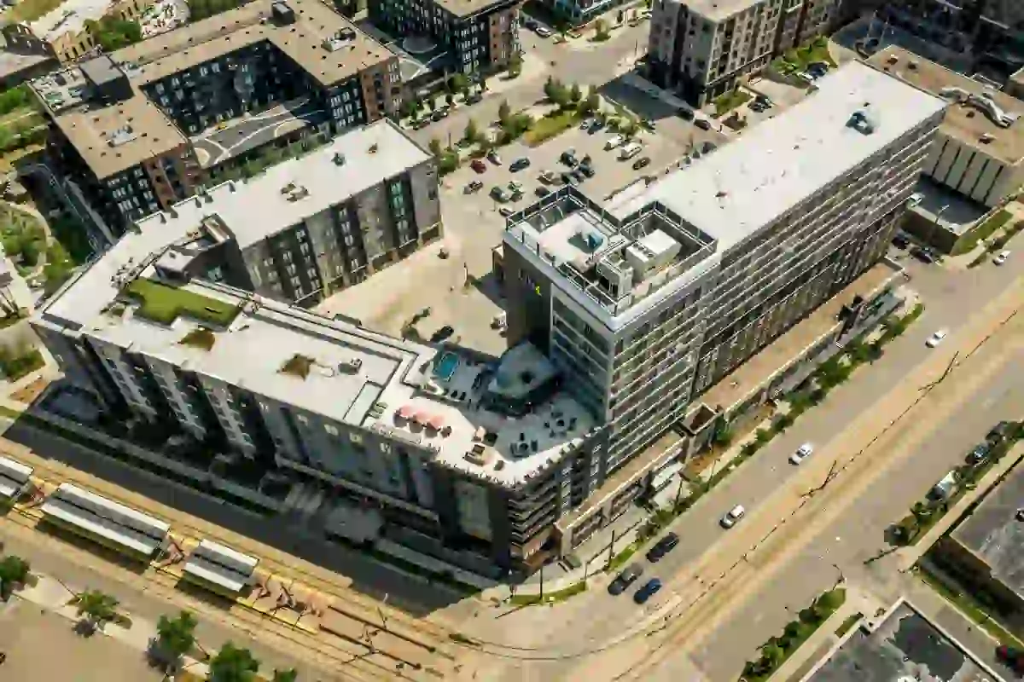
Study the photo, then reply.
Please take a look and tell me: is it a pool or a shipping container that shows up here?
pool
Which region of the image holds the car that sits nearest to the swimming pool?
center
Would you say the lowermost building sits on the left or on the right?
right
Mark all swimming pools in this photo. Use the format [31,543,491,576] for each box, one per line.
[432,349,461,383]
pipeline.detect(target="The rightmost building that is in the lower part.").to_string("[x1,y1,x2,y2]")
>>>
[933,461,1024,616]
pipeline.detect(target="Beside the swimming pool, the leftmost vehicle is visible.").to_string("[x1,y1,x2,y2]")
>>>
[430,321,456,346]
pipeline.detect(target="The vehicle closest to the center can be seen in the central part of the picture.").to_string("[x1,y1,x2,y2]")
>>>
[486,305,507,334]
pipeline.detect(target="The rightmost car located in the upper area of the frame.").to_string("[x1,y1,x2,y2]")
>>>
[990,246,1013,266]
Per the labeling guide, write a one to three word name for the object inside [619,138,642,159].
vehicle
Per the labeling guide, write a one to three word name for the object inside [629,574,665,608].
car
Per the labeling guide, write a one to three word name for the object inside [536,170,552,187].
car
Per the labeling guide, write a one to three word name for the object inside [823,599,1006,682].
building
